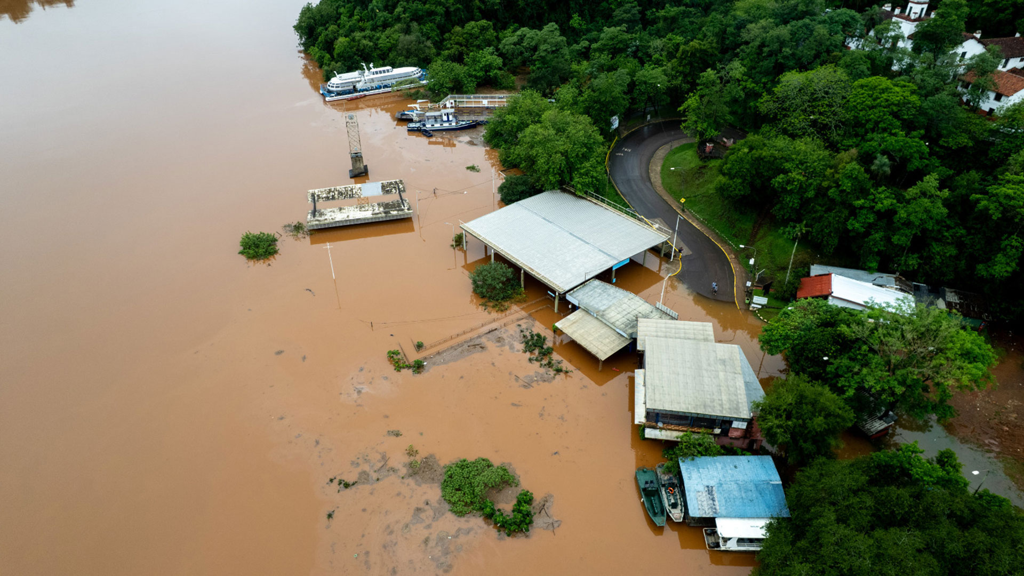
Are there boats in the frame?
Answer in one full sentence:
Yes, you can see a boat in this photo.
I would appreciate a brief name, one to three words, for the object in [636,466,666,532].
boat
